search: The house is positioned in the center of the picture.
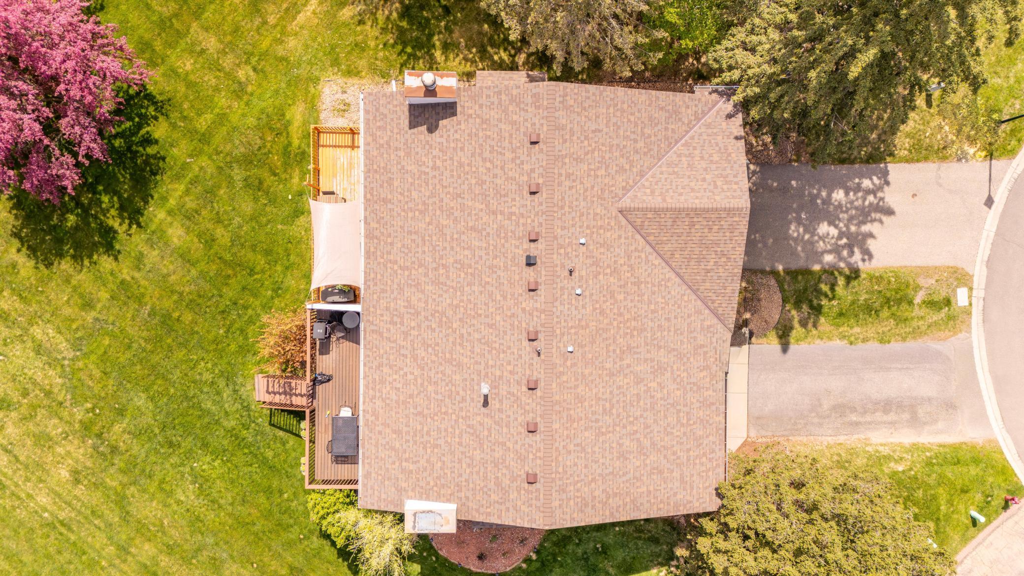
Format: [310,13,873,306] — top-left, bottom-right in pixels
[358,70,751,534]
